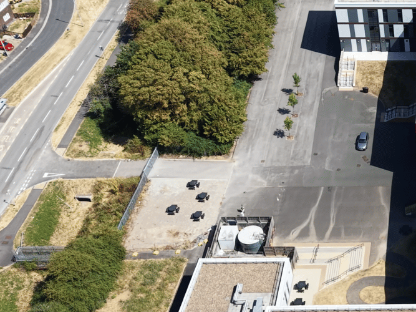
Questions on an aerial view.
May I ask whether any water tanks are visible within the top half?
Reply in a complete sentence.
No, the scene shows no water tank within the top half.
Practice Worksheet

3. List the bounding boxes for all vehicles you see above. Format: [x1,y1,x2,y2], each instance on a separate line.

[356,128,369,147]
[0,39,14,51]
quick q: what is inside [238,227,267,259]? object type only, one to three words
water tank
